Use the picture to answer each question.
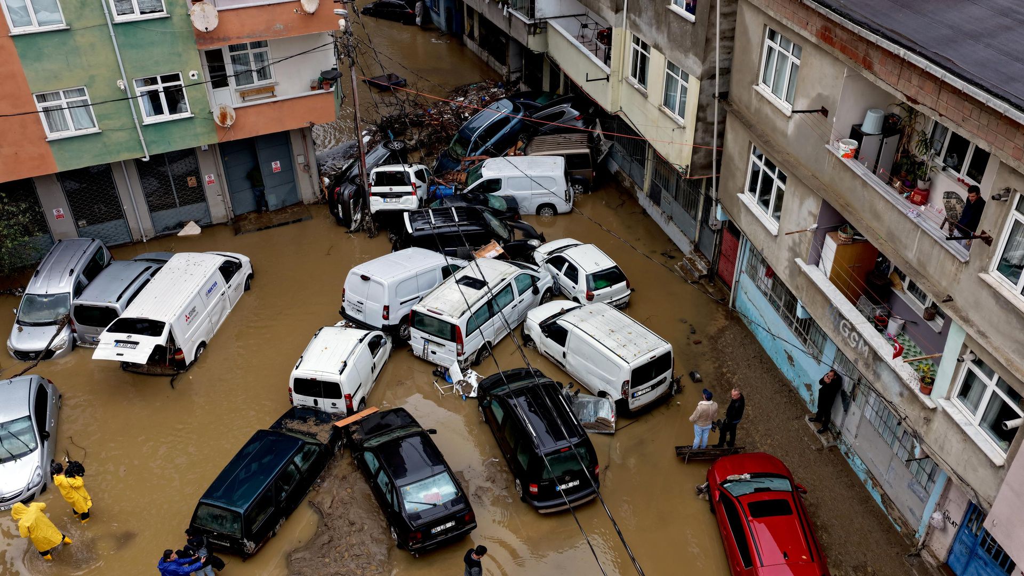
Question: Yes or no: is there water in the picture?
Yes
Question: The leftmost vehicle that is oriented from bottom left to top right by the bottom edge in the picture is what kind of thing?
car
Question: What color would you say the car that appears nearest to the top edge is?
black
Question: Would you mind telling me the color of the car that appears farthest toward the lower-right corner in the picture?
red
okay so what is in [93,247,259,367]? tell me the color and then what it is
white van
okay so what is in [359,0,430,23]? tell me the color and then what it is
black car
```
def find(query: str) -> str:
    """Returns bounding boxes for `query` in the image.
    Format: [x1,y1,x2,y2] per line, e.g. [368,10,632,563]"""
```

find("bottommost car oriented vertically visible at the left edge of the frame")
[0,375,60,508]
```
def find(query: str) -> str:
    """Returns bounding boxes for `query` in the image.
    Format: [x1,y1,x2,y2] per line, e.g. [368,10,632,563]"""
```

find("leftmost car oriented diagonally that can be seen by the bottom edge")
[190,404,350,557]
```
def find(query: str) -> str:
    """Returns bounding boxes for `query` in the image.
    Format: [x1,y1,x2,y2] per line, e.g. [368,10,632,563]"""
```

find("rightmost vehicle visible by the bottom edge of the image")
[708,449,827,576]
